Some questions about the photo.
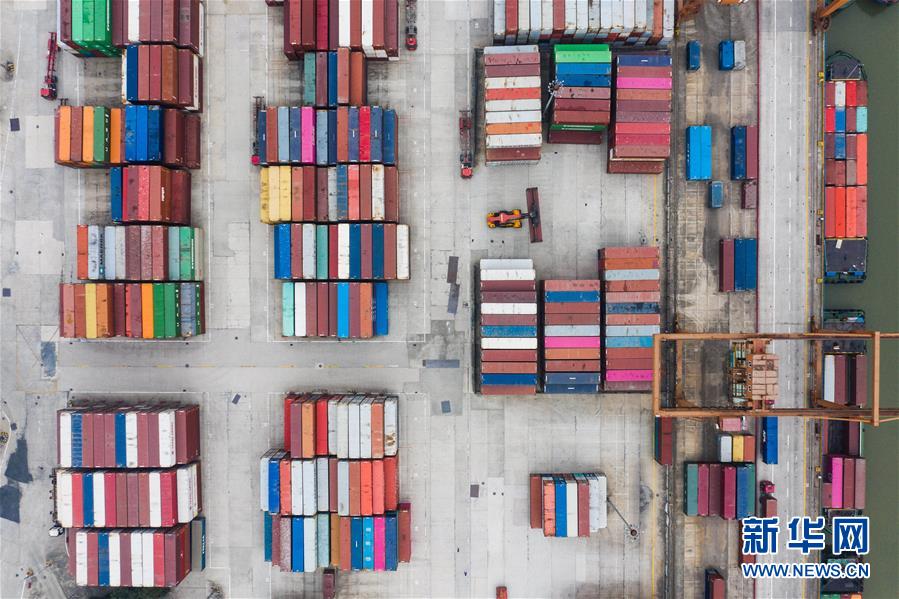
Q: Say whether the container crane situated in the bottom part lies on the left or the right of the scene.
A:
right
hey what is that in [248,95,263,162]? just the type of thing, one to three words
vehicle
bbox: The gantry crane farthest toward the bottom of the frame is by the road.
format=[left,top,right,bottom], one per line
[652,316,899,422]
